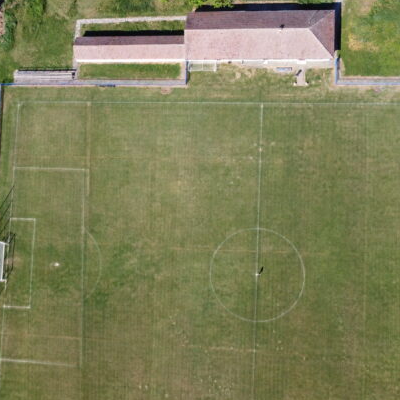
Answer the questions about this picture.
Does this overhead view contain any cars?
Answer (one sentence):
No, I can see no car in this picture.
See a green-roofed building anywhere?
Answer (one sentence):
No, there's no green-roofed building here.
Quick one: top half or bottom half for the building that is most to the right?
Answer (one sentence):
It is in the top half that the building that is most to the right appears.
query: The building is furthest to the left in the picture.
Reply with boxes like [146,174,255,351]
[73,35,186,65]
